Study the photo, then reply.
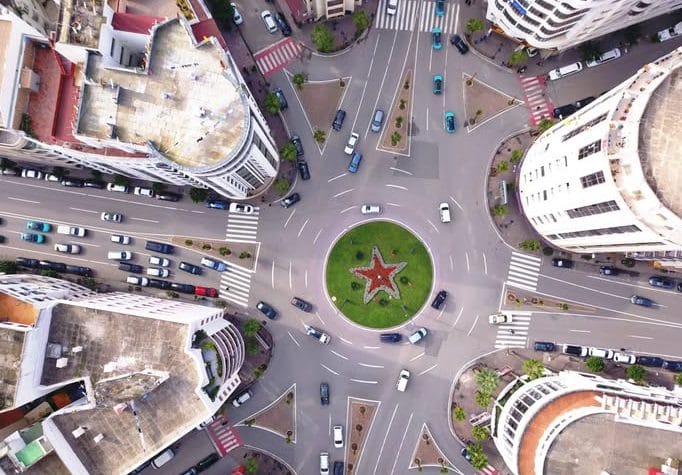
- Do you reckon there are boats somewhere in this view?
No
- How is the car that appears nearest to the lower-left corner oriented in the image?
on a diagonal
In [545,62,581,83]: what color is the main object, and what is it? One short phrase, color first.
white vehicle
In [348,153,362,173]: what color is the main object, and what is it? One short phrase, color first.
blue vehicle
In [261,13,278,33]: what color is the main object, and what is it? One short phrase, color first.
white car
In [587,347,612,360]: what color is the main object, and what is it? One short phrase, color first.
white vehicle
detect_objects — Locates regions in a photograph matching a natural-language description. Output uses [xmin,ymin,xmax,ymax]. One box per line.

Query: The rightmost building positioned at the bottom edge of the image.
[497,374,682,475]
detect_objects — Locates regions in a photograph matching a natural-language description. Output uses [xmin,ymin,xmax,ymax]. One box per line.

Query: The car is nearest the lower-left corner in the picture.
[152,448,175,469]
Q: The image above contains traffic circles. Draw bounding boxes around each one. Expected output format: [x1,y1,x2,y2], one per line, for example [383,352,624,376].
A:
[304,199,454,346]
